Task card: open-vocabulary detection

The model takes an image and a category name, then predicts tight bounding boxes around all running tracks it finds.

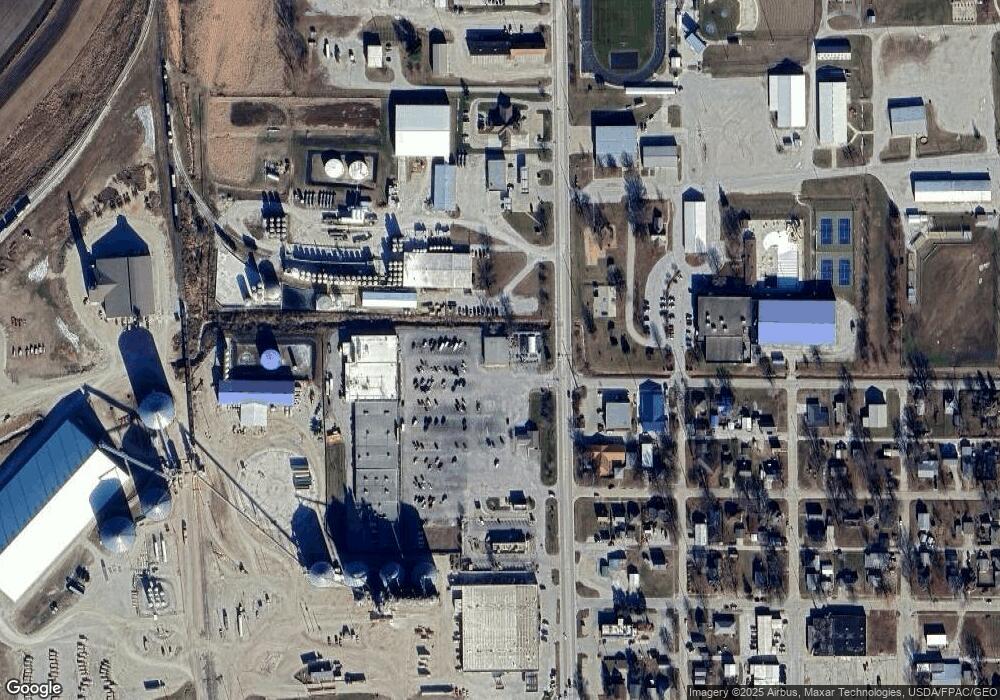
[580,0,668,84]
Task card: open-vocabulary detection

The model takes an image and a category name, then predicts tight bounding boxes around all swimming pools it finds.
[748,220,803,286]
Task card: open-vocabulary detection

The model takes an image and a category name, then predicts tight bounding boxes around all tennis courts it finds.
[836,214,854,249]
[836,255,854,290]
[817,214,836,249]
[817,255,836,290]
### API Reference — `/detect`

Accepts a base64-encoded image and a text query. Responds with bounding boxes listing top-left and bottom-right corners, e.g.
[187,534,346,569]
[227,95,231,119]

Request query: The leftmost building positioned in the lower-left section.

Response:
[0,418,130,602]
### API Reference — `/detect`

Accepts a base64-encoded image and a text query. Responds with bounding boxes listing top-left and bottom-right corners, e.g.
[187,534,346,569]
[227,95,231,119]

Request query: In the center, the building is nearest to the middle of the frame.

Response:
[484,338,509,366]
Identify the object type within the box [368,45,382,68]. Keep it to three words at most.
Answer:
shed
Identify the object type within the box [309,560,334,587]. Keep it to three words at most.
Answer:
silo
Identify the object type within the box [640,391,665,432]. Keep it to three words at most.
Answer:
building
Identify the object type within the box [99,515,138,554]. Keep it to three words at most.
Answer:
silo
